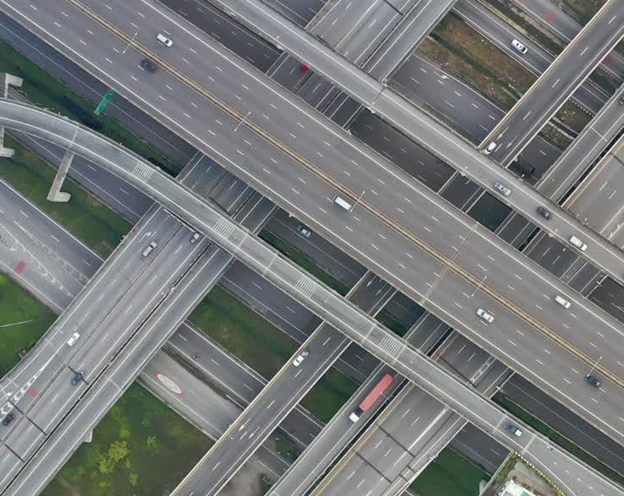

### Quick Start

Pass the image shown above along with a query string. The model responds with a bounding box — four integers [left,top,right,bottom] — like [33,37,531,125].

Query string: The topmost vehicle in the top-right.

[511,39,526,52]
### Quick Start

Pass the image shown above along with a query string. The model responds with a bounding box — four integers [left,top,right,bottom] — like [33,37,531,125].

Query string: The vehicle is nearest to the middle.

[294,223,311,237]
